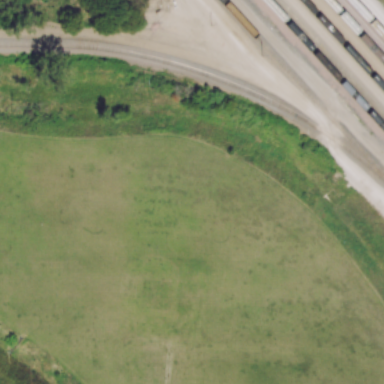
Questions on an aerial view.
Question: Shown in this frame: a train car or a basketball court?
train car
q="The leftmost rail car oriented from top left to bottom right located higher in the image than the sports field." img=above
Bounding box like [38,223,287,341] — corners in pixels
[226,0,261,38]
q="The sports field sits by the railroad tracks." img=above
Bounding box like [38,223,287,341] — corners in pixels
[0,130,384,384]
